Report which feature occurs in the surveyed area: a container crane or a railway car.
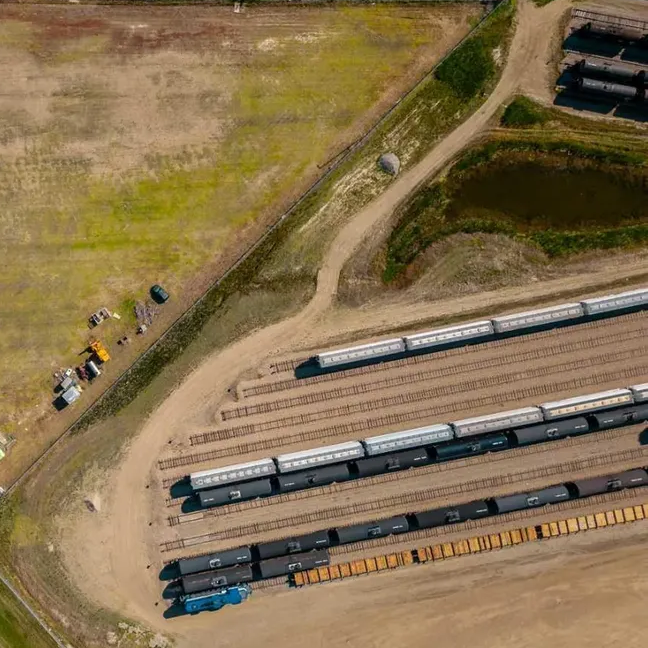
railway car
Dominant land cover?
paved ground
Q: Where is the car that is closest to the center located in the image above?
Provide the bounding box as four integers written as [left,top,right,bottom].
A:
[150,283,170,305]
